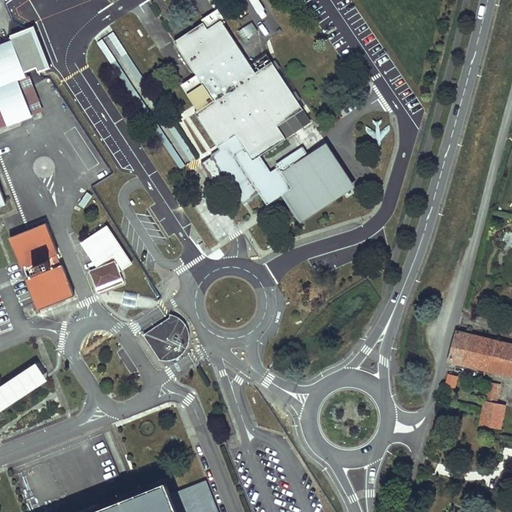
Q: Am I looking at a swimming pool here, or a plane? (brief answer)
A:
plane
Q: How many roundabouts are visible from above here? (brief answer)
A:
2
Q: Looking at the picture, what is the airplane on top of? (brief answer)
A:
grass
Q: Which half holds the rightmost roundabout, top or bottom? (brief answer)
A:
bottom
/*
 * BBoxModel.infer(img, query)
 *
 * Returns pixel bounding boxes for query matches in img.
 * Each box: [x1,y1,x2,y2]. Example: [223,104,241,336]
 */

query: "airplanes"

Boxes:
[366,116,390,145]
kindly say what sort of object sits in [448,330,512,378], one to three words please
barn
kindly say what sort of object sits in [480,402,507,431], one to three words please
house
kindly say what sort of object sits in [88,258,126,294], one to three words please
house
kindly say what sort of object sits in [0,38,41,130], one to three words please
building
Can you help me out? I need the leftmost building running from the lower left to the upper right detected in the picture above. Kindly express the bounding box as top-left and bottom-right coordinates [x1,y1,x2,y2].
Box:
[0,363,47,410]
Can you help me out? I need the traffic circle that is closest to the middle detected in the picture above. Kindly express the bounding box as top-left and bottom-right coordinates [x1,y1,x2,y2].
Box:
[186,256,278,348]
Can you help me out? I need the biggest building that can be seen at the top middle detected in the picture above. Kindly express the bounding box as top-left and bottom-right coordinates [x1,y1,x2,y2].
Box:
[175,9,311,204]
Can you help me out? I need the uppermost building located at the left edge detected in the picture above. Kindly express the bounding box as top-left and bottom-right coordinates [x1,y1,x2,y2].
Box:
[9,24,50,76]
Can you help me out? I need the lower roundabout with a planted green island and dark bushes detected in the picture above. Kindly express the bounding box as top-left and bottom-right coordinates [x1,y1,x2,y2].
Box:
[300,370,398,468]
